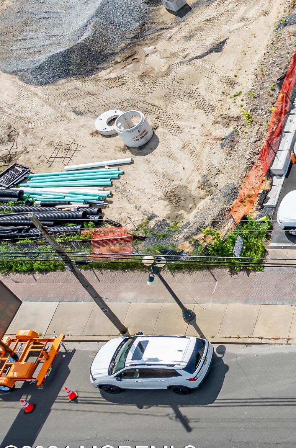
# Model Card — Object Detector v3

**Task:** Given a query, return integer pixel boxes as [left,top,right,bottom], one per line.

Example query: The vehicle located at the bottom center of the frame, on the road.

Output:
[85,336,211,399]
